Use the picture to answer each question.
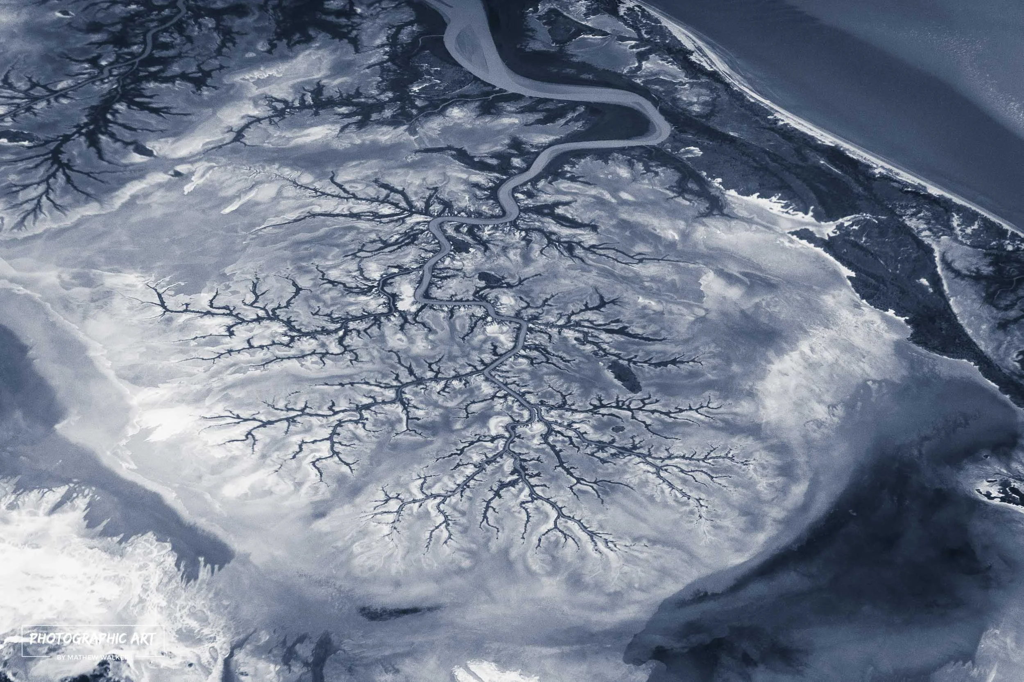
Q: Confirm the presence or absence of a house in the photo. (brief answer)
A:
No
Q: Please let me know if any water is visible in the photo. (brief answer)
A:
Yes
